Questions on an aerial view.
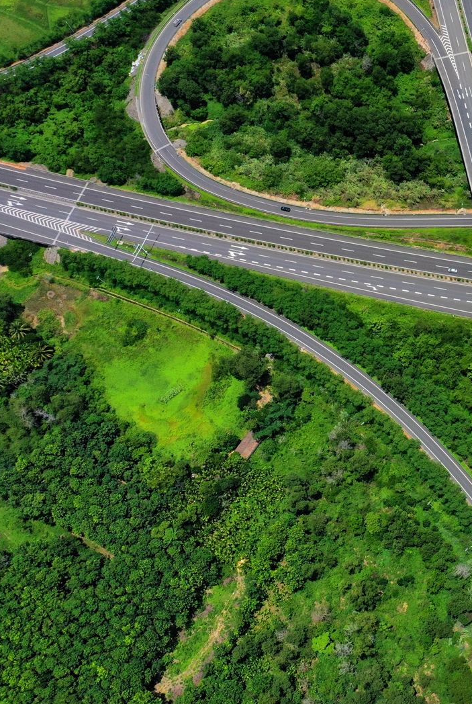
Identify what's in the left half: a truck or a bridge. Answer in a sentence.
What appears in the left half is a bridge.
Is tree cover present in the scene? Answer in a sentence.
Yes, tree cover shows up in the scene.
